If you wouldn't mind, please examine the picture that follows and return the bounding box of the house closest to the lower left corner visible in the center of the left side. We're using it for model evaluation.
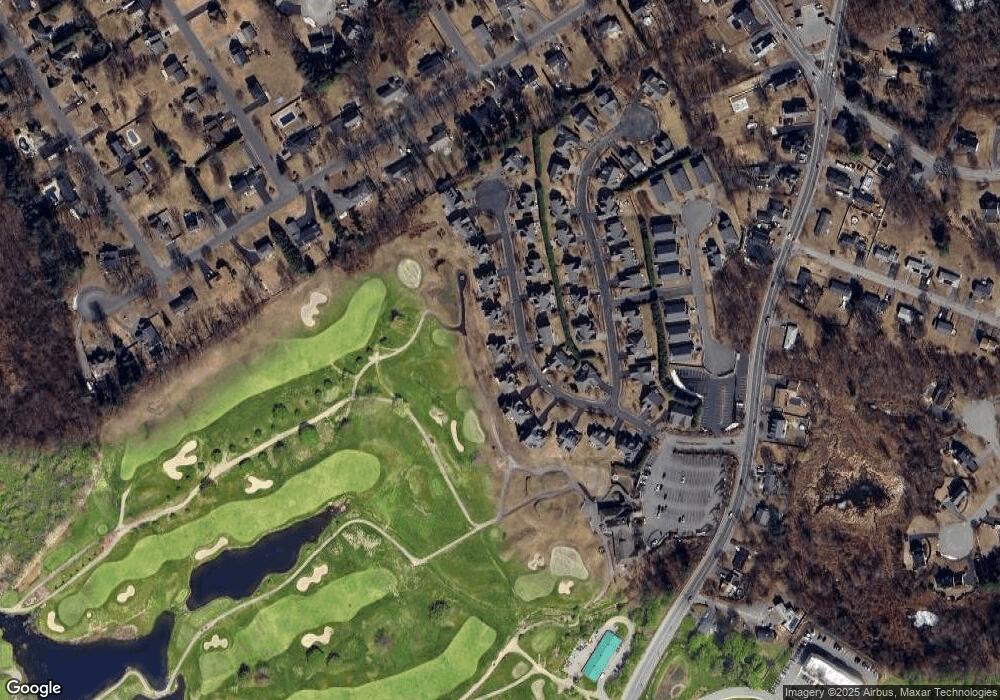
[89,350,119,369]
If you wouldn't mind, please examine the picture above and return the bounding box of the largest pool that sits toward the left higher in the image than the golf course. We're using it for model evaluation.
[273,105,301,131]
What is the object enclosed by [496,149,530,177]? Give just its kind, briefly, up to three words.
house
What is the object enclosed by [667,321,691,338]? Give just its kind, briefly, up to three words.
house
